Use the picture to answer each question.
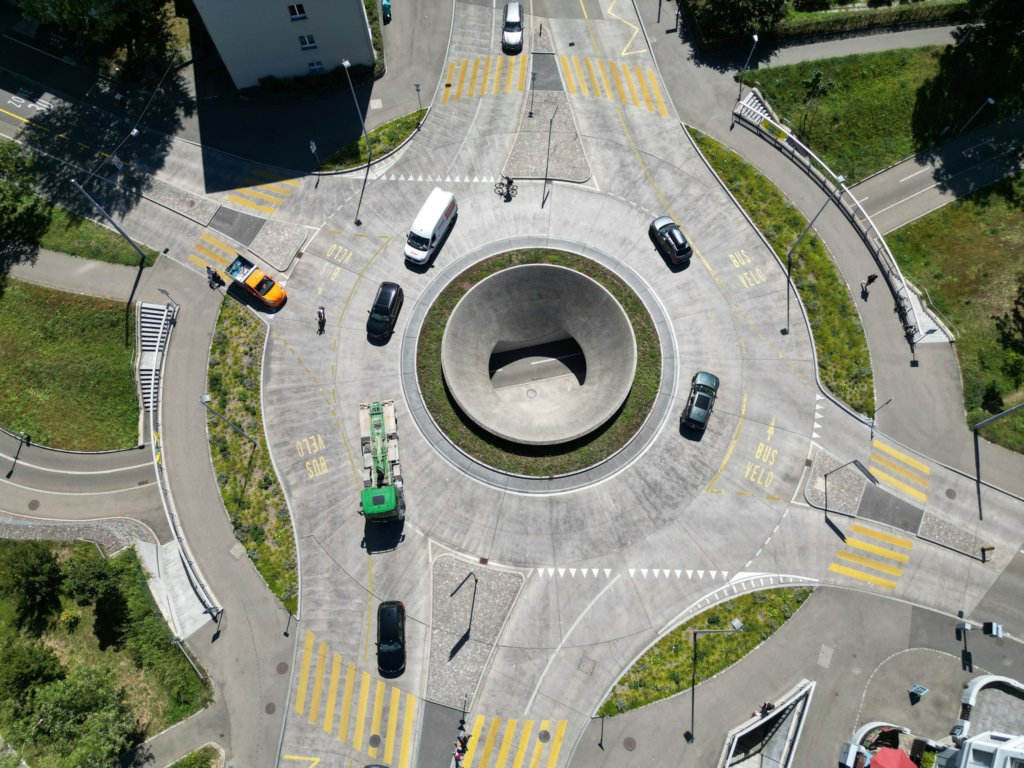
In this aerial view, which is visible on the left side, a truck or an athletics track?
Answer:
truck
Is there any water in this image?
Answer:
No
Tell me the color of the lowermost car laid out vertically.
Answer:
black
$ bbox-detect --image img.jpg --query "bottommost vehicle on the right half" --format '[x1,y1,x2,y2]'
[682,373,718,429]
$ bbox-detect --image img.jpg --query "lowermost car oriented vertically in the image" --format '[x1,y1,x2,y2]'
[374,601,407,675]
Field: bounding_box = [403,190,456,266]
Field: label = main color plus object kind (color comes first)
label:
white van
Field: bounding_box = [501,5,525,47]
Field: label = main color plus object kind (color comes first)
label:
white car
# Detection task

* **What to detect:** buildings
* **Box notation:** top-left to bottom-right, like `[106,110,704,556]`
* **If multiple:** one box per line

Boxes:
[921,728,1024,768]
[197,0,375,88]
